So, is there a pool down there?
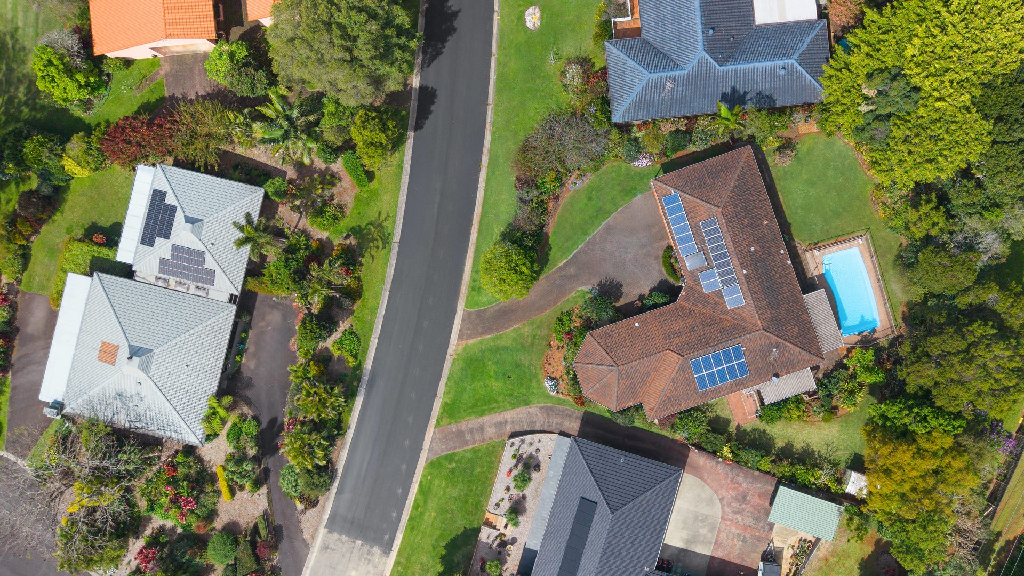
Yes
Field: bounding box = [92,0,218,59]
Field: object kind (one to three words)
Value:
house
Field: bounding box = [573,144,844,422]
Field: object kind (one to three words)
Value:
house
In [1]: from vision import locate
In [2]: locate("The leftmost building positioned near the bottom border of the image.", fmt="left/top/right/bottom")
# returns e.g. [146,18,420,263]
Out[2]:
[515,433,702,576]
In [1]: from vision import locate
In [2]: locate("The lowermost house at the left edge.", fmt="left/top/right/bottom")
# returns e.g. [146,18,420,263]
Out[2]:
[39,271,241,447]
